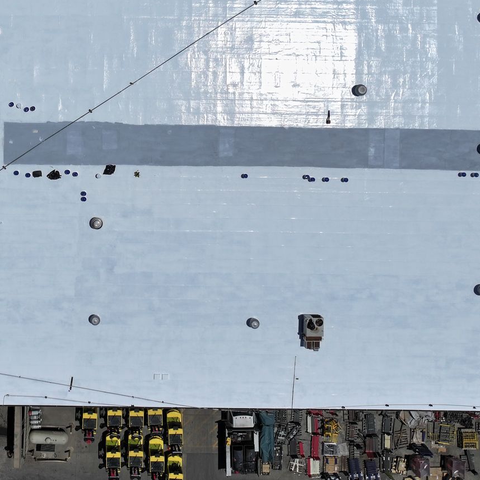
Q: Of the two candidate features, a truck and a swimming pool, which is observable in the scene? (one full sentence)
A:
Of the two, only a truck appears.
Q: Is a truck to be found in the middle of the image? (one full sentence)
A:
No, no truck is visible in the middle of the image.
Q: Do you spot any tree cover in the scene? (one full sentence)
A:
No, tree cover can't be seen anywhere here.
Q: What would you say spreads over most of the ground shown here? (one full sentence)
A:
What you mostly see from above here is buildings.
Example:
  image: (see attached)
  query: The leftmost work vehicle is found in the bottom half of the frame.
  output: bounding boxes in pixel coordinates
[81,410,99,442]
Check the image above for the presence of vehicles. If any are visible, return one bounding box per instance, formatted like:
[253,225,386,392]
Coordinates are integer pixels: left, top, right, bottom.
[146,433,166,480]
[145,411,163,438]
[81,410,99,442]
[163,411,184,458]
[126,411,145,439]
[125,426,144,480]
[105,411,123,438]
[104,430,123,480]
[222,412,257,477]
[163,450,184,480]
